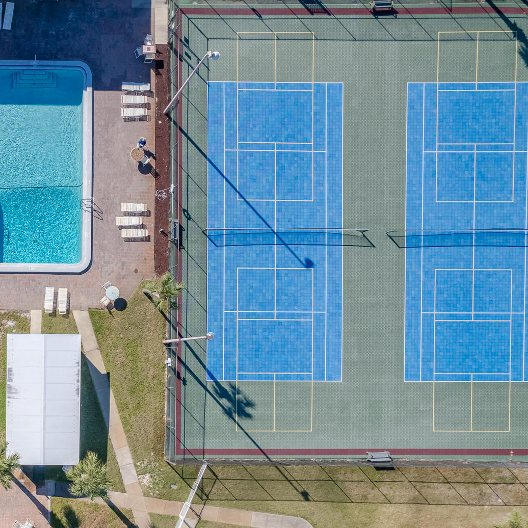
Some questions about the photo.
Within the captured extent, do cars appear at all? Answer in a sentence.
No, the picture doesn't show any car.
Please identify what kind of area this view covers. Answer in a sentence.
The area seen from above is a sports ground.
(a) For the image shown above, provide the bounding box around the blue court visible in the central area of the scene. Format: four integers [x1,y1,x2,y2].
[207,32,344,432]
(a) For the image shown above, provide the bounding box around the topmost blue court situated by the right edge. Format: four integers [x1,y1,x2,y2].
[404,31,528,432]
